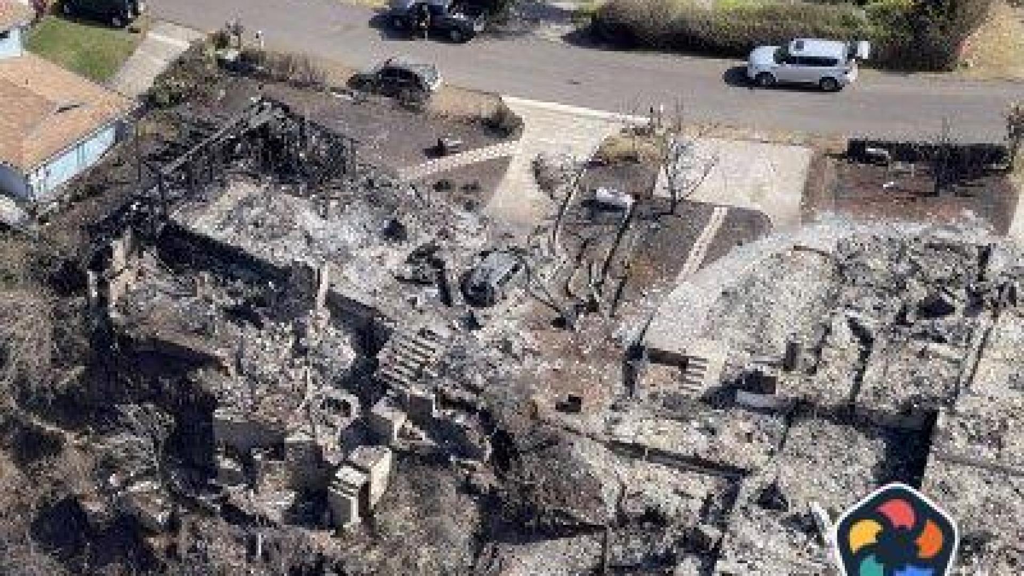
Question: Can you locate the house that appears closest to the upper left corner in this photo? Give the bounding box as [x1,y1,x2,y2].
[0,0,131,213]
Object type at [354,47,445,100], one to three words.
car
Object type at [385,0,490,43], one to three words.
car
